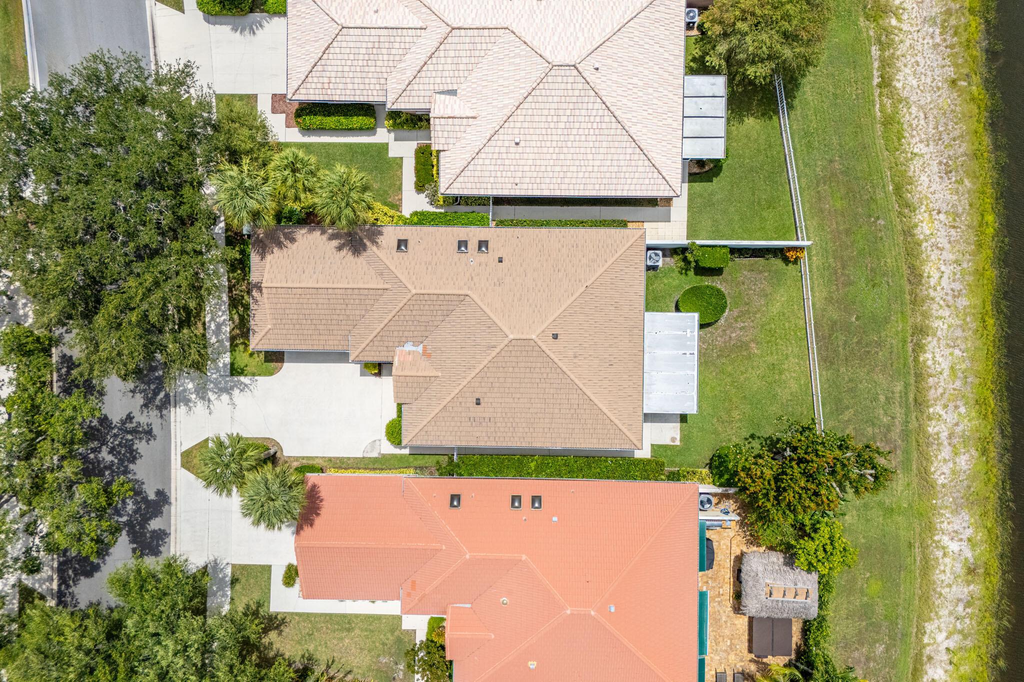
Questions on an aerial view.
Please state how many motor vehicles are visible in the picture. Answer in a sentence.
There are no motor vehicles in the image.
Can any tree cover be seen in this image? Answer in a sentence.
Yes, there's tree cover in this view.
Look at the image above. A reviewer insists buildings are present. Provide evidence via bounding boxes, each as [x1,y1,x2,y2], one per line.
[735,550,820,621]
[286,0,726,205]
[248,224,699,448]
[294,472,709,682]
